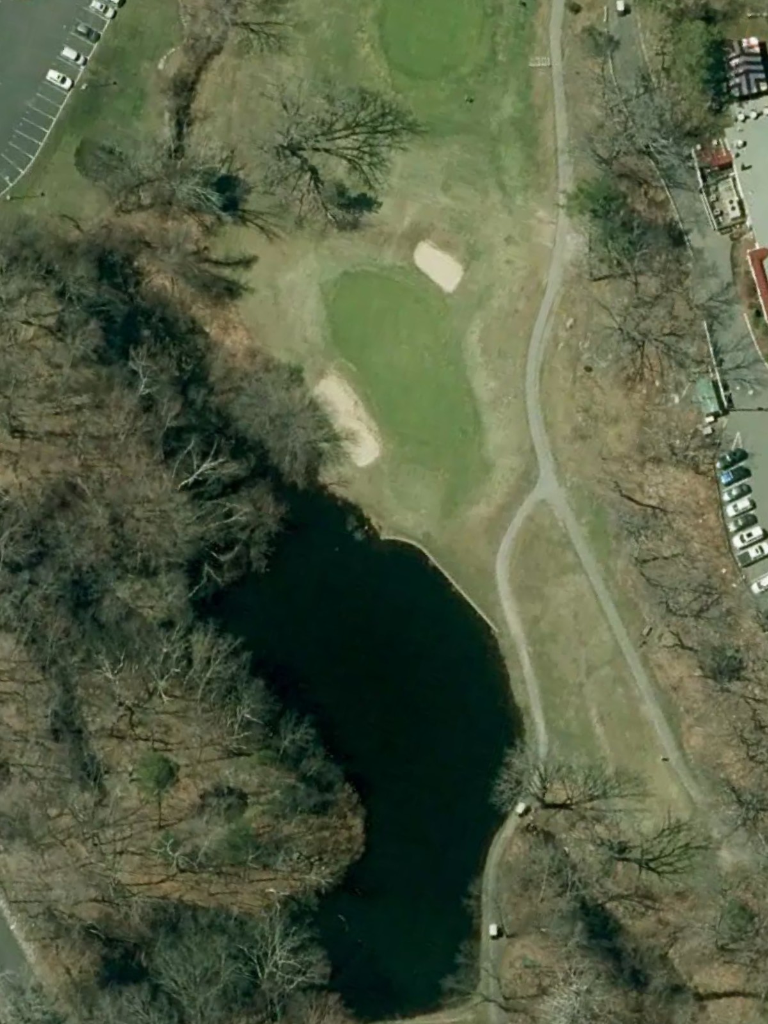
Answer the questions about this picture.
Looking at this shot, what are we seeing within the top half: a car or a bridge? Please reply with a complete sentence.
Visible within the top half is a car.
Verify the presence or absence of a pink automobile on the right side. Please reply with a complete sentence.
No, no pink automobile can be made out on the right side.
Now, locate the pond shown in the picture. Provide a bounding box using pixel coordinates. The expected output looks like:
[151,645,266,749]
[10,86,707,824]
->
[182,481,523,1023]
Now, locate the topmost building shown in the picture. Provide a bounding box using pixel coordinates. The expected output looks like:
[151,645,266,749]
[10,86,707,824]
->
[727,37,768,102]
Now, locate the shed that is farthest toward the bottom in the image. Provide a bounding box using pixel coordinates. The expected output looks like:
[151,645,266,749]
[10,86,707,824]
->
[697,377,720,418]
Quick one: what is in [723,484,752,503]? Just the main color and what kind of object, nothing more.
gray car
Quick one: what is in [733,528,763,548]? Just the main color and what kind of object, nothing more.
white car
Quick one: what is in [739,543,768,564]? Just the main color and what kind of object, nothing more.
white truck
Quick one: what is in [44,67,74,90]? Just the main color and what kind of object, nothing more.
white truck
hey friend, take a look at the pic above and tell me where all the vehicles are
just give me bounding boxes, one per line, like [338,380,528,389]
[44,67,74,90]
[616,1,624,15]
[727,499,756,519]
[60,45,88,66]
[723,484,752,503]
[752,577,768,593]
[88,0,118,19]
[739,543,768,564]
[516,802,527,818]
[721,466,751,486]
[489,925,497,939]
[75,23,102,43]
[718,450,748,469]
[729,514,758,533]
[733,528,763,548]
